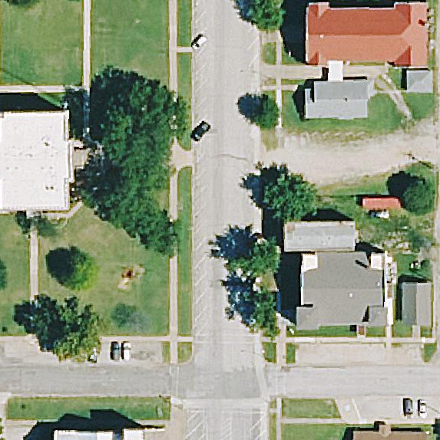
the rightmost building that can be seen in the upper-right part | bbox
[408,68,433,92]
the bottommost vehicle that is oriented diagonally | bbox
[193,121,210,139]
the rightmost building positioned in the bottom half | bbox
[403,282,432,326]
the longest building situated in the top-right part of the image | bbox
[307,1,428,65]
